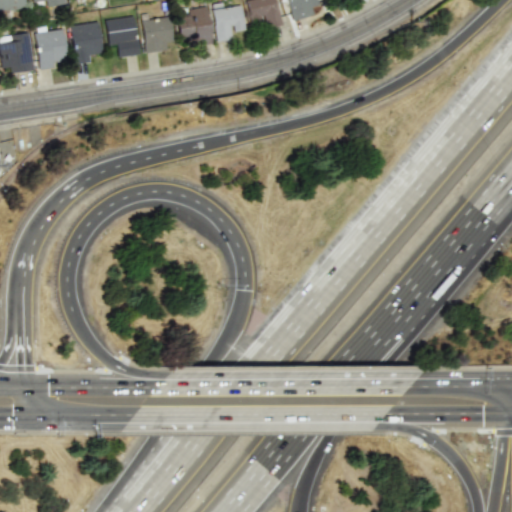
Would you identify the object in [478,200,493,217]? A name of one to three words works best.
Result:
vehicle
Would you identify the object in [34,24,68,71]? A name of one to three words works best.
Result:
house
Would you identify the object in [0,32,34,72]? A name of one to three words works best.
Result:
house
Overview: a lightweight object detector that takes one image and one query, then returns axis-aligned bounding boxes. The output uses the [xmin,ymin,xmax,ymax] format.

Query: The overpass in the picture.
[118,366,426,435]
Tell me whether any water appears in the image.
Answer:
No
